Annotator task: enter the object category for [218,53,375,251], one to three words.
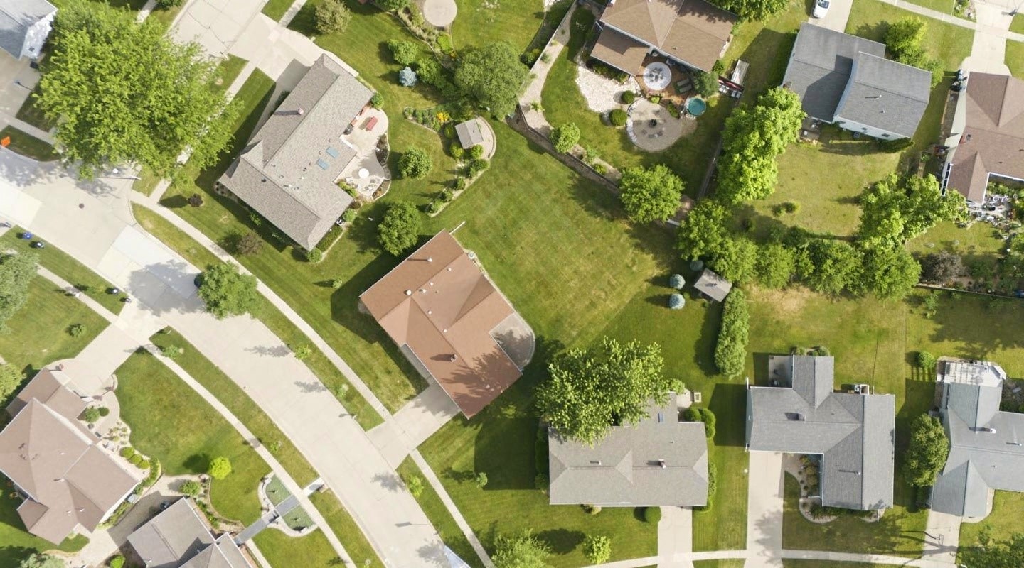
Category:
house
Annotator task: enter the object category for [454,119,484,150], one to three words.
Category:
shed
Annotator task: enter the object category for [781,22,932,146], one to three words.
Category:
house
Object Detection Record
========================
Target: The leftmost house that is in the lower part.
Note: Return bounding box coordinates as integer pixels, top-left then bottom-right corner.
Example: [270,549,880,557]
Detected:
[0,367,146,546]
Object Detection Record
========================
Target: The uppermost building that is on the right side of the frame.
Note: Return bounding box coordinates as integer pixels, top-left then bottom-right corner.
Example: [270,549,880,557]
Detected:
[590,0,738,77]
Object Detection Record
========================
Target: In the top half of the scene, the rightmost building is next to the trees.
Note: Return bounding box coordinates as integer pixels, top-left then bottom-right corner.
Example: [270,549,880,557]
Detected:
[935,71,1024,205]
